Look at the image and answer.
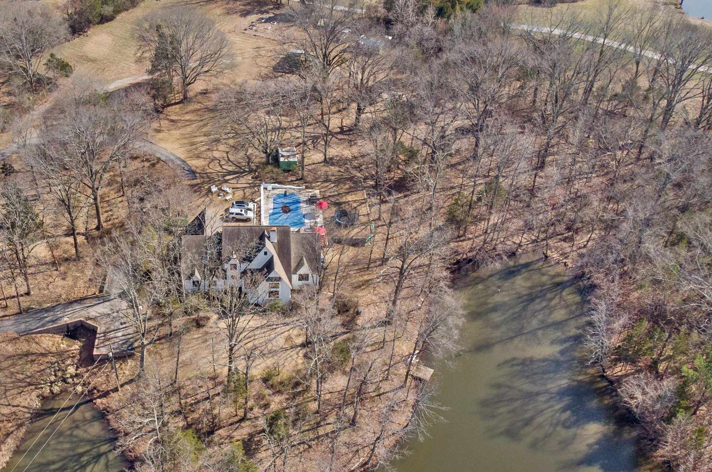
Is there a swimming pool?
Yes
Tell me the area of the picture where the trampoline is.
center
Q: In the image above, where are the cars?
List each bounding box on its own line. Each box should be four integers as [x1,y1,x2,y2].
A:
[230,208,253,221]
[230,198,255,211]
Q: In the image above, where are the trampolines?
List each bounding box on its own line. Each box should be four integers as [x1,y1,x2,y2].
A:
[336,205,358,229]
